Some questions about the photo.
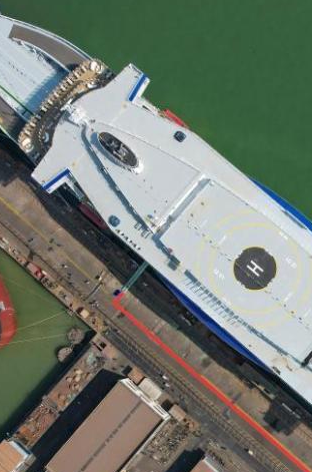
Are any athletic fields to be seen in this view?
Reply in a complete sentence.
No, the picture doesn't show any athletic field.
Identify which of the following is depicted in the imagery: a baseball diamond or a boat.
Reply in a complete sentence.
There is a boat in the scene.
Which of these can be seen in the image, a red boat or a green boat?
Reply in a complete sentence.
The image shows a red boat.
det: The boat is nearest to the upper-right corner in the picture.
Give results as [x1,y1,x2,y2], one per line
[158,107,185,127]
